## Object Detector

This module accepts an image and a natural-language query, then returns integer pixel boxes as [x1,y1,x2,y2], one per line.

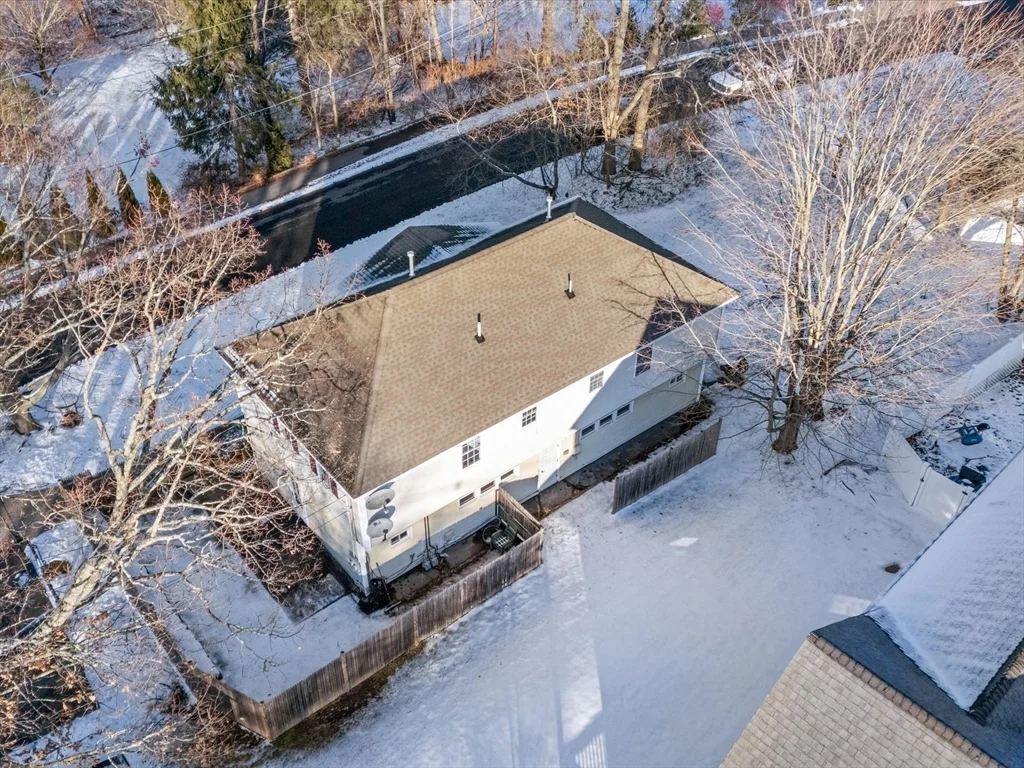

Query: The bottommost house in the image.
[715,446,1024,768]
